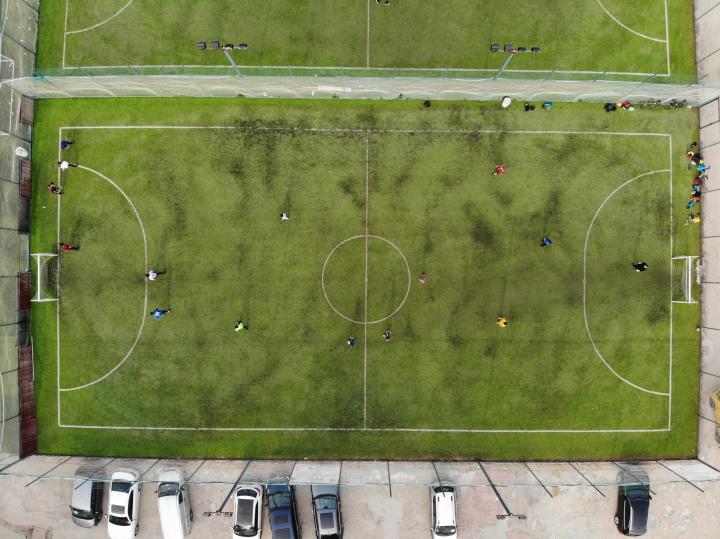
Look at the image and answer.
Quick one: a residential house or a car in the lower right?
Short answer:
car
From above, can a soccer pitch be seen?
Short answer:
Yes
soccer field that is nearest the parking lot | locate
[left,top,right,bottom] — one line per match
[34,97,700,459]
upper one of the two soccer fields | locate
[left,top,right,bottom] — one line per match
[34,0,700,106]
